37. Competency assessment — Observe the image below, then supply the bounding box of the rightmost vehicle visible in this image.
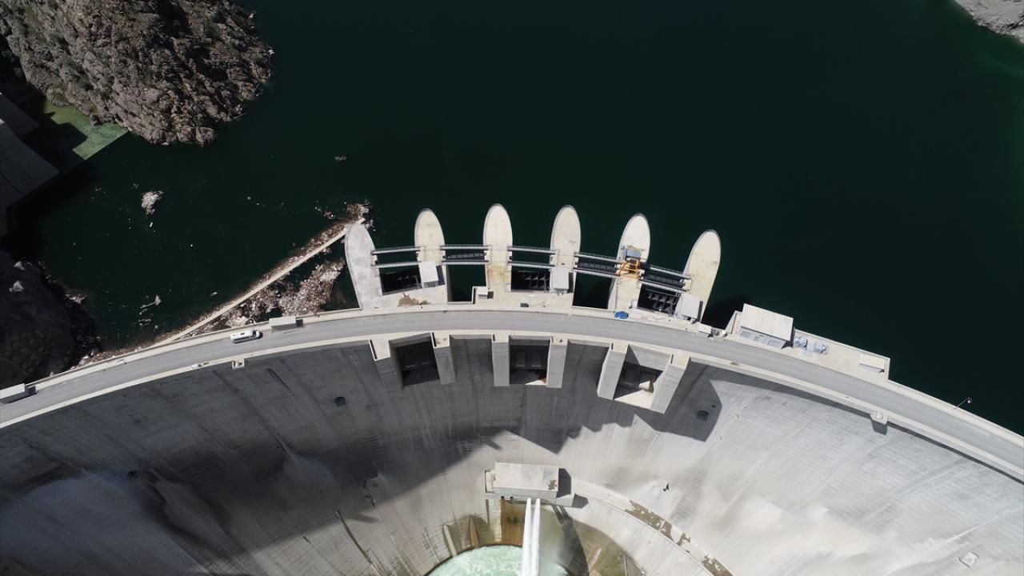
[228,328,263,344]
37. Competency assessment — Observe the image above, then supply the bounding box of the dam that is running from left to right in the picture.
[0,203,1024,576]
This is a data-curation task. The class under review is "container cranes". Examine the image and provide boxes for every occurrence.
[617,245,645,284]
